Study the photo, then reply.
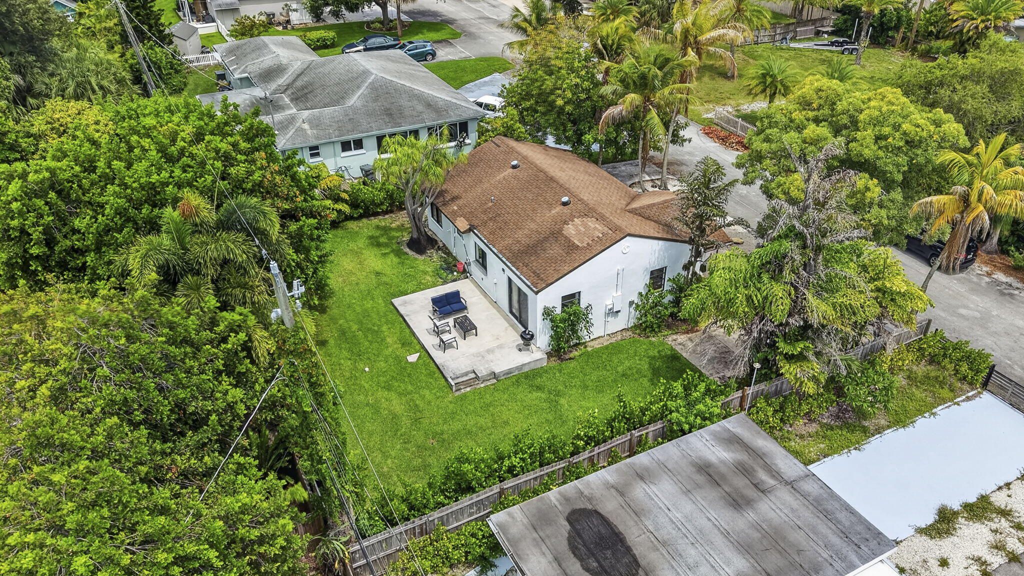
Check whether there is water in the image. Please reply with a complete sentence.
No, there is no water in the image.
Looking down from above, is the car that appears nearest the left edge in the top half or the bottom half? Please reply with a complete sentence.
You can find the car that appears nearest the left edge in the top half.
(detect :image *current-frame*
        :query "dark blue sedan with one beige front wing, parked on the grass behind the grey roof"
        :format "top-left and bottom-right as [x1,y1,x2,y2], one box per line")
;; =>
[343,32,396,53]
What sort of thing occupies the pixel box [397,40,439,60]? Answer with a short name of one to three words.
car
